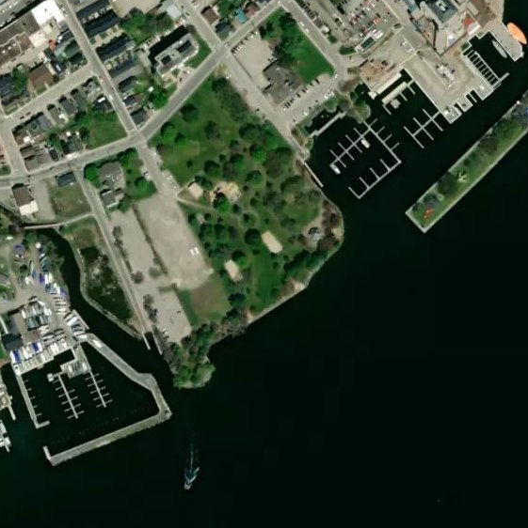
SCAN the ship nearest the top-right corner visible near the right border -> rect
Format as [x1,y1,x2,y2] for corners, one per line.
[509,22,526,42]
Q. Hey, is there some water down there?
Yes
